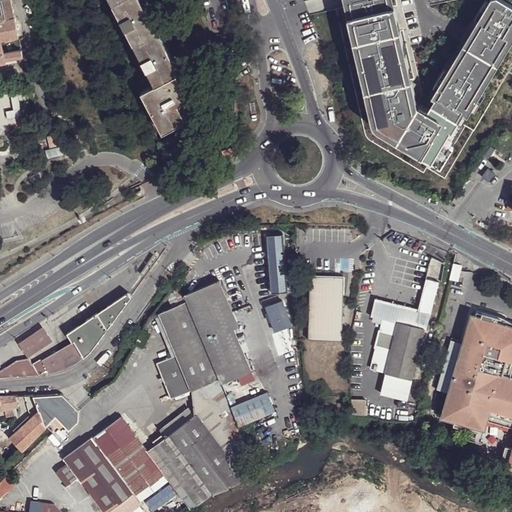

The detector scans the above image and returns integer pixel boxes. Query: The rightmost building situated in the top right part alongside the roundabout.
[341,0,512,180]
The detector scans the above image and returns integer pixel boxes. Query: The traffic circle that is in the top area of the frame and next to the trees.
[249,116,342,207]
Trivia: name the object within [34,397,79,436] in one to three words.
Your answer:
house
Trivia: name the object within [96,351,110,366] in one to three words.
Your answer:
vehicle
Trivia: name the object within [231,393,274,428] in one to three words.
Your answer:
shed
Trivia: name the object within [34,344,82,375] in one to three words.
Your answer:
building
